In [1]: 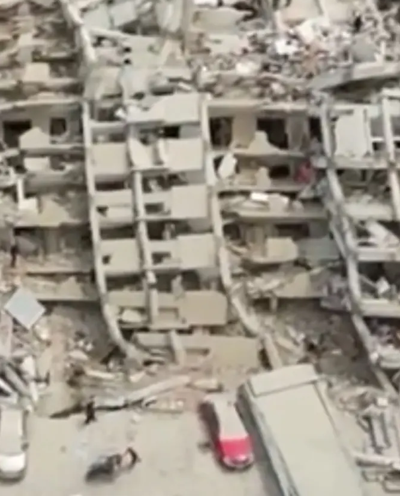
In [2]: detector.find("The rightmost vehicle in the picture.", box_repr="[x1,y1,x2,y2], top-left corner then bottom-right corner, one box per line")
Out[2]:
[243,367,372,496]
